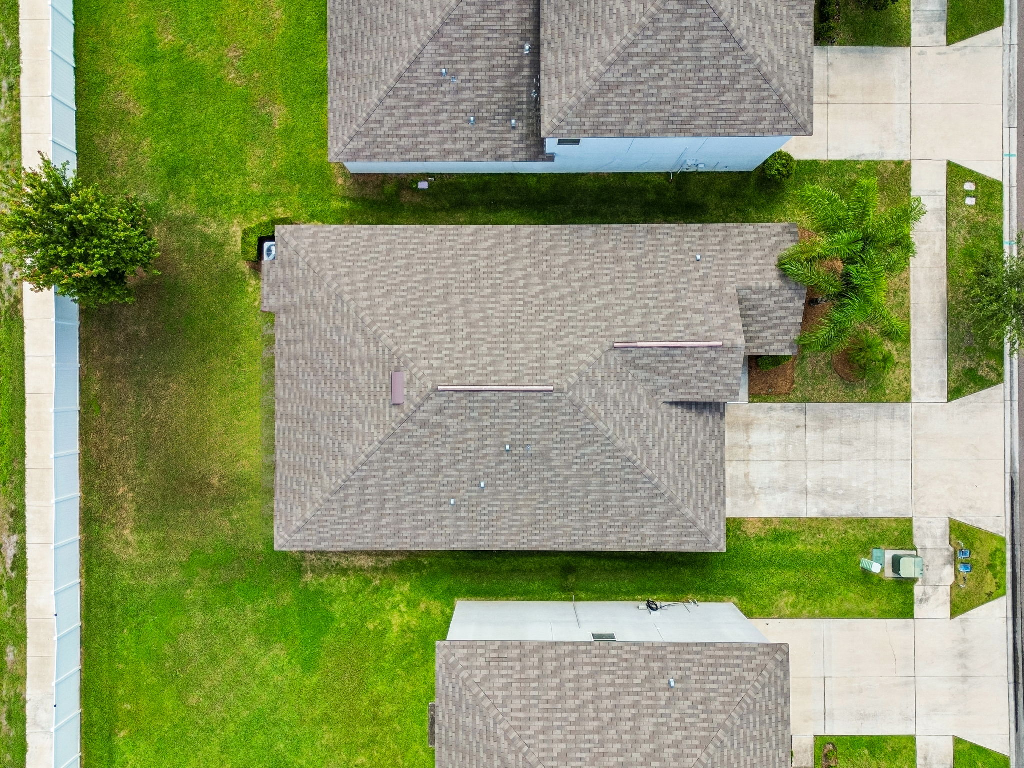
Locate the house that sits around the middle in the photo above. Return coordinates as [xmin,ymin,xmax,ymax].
[261,224,808,552]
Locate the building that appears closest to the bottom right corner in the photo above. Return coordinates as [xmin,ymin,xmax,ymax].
[435,594,791,768]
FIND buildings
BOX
[435,594,791,768]
[328,0,821,185]
[261,224,808,552]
